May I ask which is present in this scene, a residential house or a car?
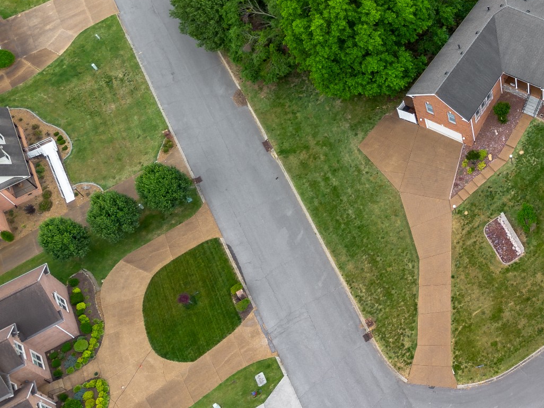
residential house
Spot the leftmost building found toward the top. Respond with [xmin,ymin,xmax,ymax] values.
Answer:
[0,107,47,215]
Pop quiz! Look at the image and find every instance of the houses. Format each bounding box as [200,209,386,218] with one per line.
[0,107,47,215]
[0,264,80,408]
[406,0,544,144]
